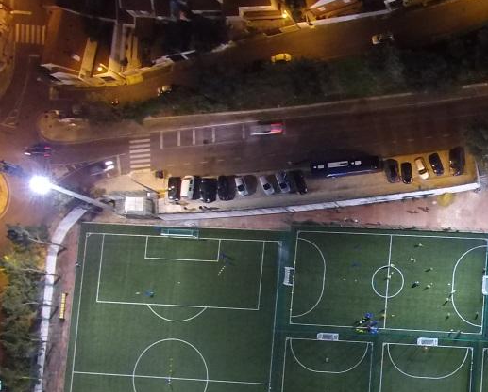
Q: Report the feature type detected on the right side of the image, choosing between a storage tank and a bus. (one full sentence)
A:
Looking on the right side of the image, you will find a bus.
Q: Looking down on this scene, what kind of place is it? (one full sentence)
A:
The area seen from above is a sports ground.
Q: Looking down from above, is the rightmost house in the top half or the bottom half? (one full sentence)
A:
Seen from above, the rightmost house lies in the top half of the view.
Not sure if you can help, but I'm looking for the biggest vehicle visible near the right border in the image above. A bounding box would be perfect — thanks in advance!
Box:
[310,153,476,198]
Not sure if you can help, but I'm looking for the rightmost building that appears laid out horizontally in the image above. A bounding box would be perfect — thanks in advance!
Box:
[295,0,394,27]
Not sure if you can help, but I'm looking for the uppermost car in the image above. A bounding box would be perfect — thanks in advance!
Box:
[368,30,391,44]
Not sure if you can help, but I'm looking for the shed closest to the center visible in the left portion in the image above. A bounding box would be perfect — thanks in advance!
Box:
[111,191,159,216]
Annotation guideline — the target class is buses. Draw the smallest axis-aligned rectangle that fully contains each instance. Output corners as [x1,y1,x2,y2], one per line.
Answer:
[305,153,380,176]
[310,153,476,198]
